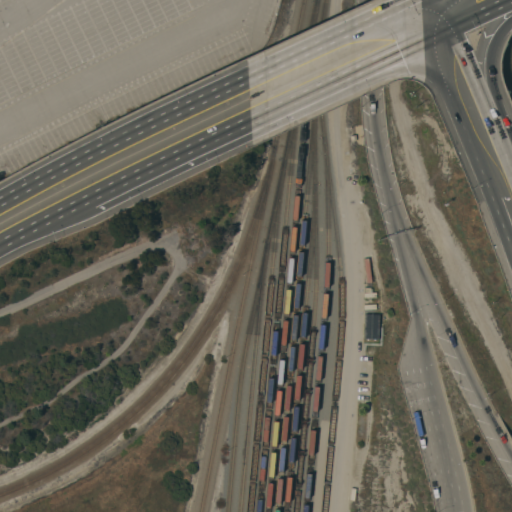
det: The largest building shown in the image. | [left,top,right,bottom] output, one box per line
[366,312,381,340]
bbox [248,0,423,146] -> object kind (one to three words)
overpass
